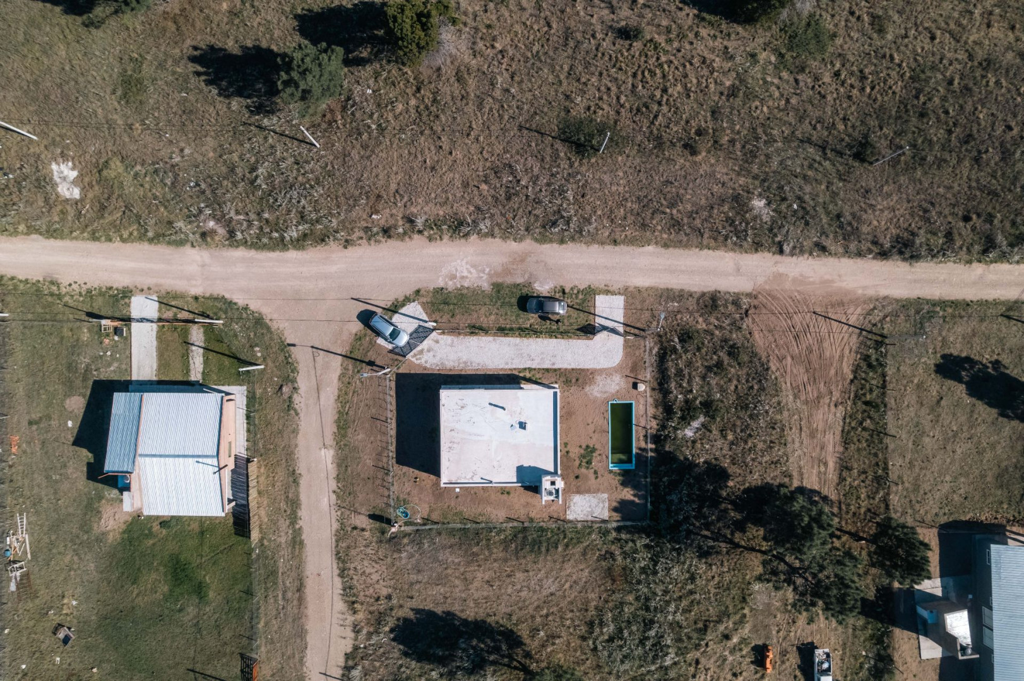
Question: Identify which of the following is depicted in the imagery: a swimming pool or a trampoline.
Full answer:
The one in the frame is a swimming pool.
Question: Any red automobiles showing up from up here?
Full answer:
No, there appears to be no red automobile in this shot.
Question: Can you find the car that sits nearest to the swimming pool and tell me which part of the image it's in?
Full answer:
The car that sits nearest to the swimming pool is located in the center region of the scene.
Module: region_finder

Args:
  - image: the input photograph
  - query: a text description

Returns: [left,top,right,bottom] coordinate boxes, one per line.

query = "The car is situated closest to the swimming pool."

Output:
[527,294,568,316]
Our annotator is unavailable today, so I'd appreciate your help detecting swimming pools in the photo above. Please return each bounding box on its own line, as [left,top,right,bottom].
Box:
[608,397,635,470]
